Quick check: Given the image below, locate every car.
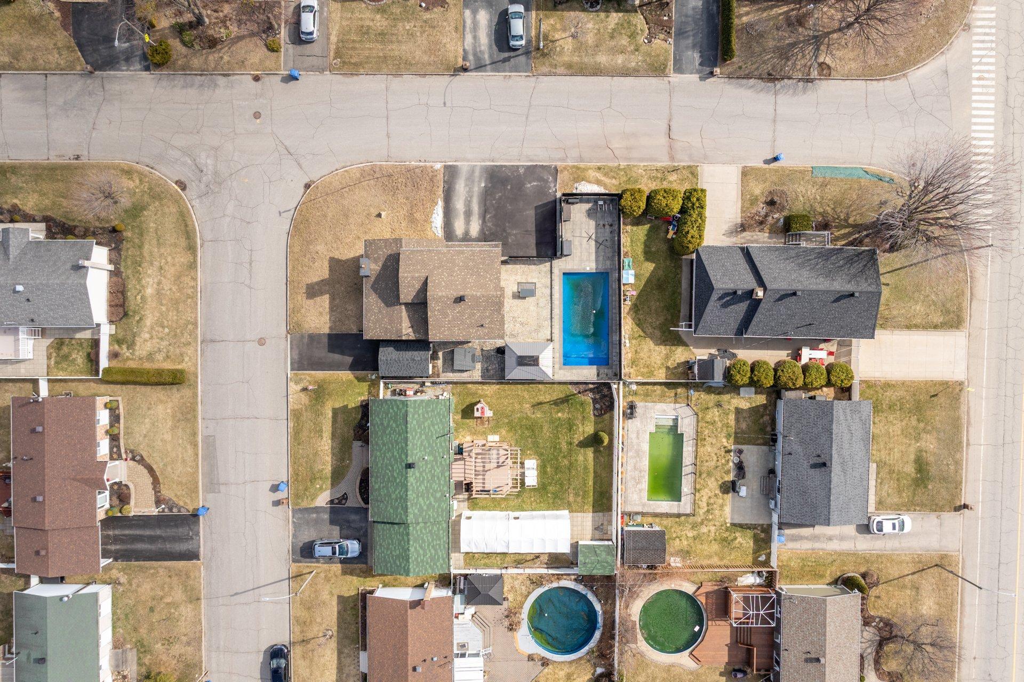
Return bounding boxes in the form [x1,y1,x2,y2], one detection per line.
[267,645,292,682]
[505,3,526,50]
[298,0,320,42]
[868,515,914,538]
[313,537,361,561]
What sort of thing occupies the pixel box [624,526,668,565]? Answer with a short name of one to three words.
shed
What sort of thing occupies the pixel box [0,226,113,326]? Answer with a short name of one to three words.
house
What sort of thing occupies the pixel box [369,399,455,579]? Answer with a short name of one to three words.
building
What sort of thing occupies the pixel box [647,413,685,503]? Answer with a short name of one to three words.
swimming pool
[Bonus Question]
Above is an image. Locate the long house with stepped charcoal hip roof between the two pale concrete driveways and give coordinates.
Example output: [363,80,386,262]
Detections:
[692,231,883,339]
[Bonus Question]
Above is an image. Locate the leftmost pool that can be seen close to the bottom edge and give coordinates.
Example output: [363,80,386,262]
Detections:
[514,580,604,663]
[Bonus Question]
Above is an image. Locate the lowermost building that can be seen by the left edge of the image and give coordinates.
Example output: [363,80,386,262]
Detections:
[13,579,138,682]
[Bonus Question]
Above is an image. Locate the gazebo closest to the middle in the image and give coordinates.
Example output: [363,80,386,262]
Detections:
[504,341,553,380]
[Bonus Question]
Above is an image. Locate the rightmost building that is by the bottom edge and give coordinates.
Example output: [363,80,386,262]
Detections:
[771,584,861,682]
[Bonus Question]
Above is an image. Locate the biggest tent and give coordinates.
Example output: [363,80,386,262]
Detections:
[461,506,570,551]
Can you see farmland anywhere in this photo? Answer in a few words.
No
